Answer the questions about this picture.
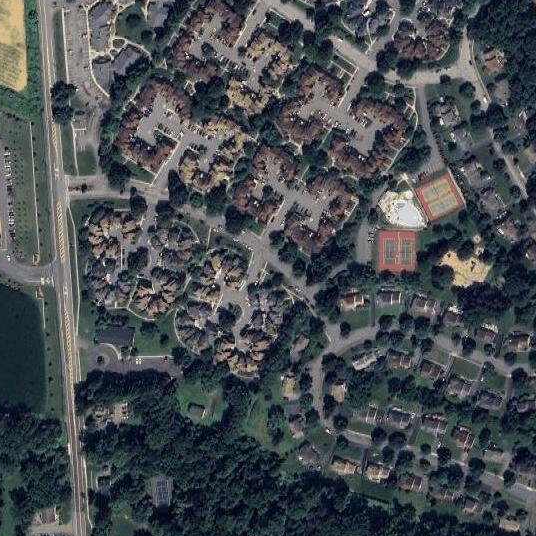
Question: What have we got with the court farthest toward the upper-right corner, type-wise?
tennis court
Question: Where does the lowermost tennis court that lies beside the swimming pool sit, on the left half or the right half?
right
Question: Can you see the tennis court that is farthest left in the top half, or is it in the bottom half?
bottom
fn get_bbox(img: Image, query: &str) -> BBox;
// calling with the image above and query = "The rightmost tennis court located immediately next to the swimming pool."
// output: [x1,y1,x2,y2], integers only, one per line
[413,168,464,223]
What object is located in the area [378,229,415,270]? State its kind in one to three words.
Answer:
tennis court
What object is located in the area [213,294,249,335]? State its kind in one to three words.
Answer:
roundabout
